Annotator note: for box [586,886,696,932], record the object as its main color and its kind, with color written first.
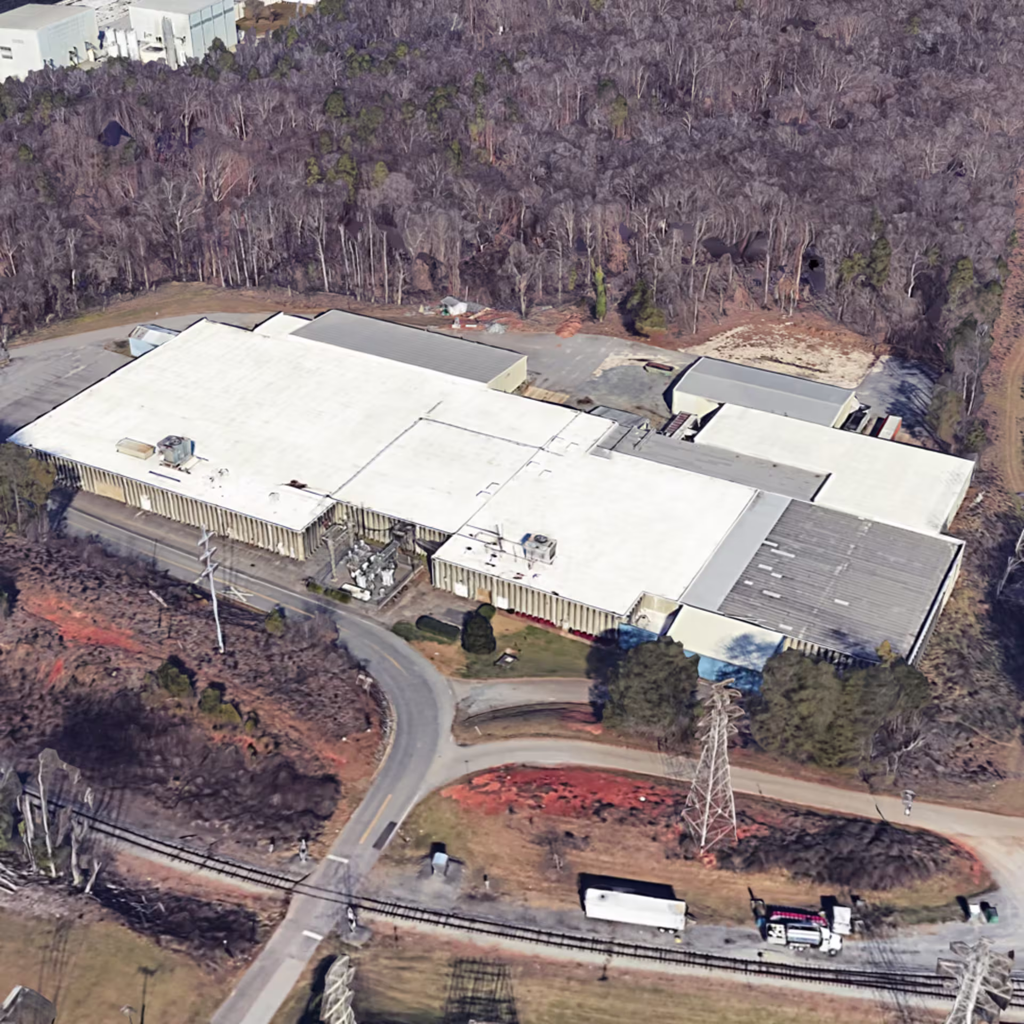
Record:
white trailer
